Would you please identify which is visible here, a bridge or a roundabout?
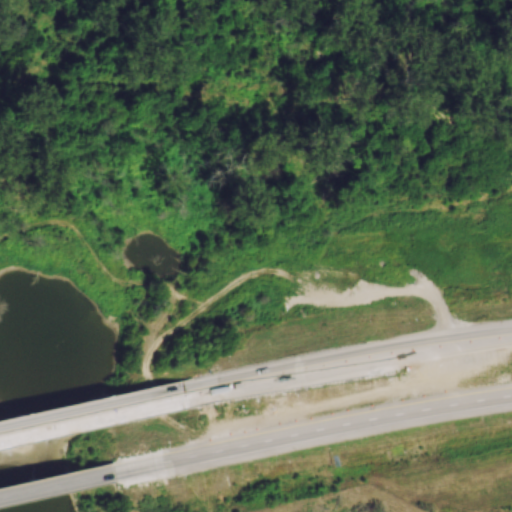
bridge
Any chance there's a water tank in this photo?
No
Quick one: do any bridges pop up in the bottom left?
Yes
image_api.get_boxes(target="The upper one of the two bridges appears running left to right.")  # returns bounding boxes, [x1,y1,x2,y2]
[0,380,186,450]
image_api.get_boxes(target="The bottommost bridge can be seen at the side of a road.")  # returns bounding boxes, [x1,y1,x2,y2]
[0,462,120,508]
